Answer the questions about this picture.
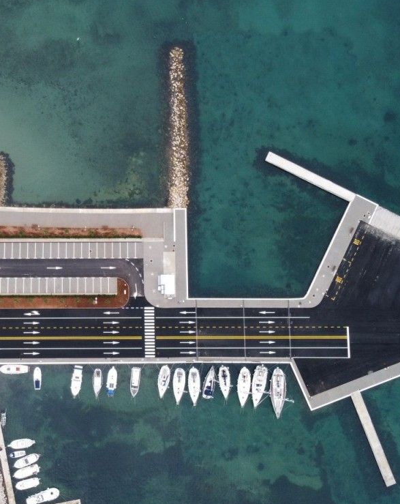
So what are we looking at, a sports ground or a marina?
marina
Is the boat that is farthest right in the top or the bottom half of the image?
bottom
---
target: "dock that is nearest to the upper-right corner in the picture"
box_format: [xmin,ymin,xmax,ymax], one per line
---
[265,151,355,202]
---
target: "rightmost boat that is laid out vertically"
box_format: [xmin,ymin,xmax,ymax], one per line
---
[269,365,294,426]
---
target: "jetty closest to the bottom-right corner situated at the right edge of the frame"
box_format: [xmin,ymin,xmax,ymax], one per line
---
[351,392,395,486]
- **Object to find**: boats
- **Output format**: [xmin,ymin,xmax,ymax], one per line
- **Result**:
[9,438,35,450]
[172,364,188,405]
[0,365,29,374]
[250,364,268,413]
[130,365,140,402]
[71,365,83,403]
[236,367,253,412]
[187,367,201,413]
[16,475,41,490]
[0,410,6,425]
[26,490,60,504]
[91,365,102,404]
[106,367,117,396]
[269,365,294,426]
[202,367,217,399]
[218,364,232,406]
[33,368,41,390]
[14,462,40,478]
[10,450,27,458]
[14,452,40,468]
[157,364,170,404]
